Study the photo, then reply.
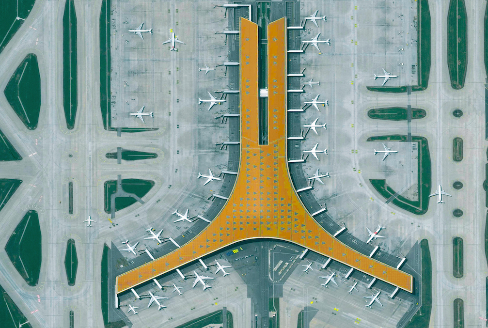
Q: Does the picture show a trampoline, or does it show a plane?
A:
plane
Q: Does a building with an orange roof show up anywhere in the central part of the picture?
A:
Yes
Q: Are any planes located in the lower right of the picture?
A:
Yes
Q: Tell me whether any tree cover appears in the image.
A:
No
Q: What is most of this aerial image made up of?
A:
paved ground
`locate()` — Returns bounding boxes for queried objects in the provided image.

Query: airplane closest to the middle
[197,169,221,186]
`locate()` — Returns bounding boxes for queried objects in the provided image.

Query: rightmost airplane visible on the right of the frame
[430,185,451,204]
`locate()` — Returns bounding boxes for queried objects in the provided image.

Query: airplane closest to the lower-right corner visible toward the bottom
[362,292,383,309]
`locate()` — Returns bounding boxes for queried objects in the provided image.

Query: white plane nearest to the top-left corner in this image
[128,22,153,40]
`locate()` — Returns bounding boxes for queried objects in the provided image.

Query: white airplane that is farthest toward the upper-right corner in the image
[374,67,398,85]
